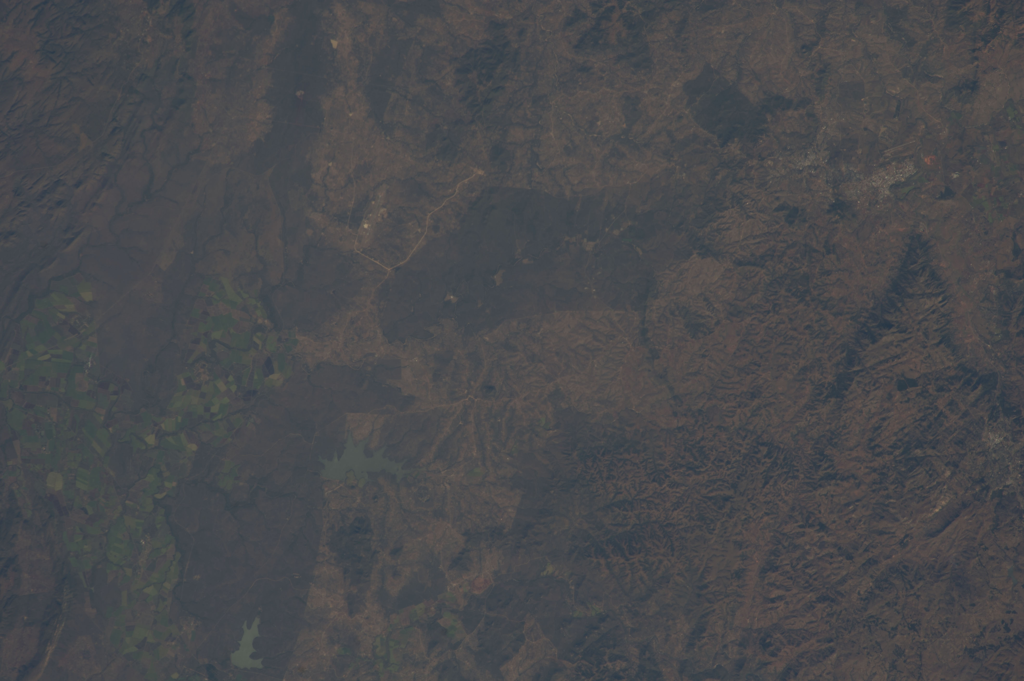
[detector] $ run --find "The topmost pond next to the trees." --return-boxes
[318,430,426,483]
